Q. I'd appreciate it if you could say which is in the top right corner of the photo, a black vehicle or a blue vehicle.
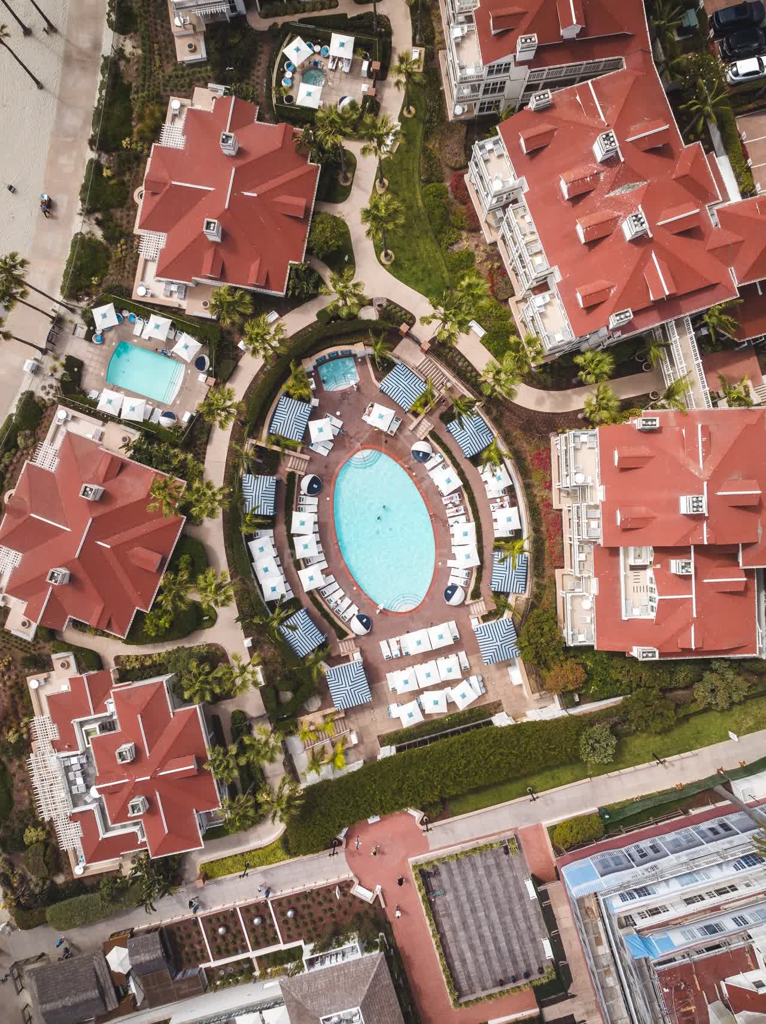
black vehicle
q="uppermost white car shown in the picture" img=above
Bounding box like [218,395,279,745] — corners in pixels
[725,57,766,86]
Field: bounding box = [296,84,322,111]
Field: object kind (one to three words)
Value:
umbrella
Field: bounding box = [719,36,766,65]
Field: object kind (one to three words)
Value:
car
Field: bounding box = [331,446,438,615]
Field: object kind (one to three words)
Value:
swimming pool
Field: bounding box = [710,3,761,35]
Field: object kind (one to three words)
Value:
car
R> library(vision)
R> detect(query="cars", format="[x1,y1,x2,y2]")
[710,3,761,35]
[725,57,766,86]
[719,36,766,65]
